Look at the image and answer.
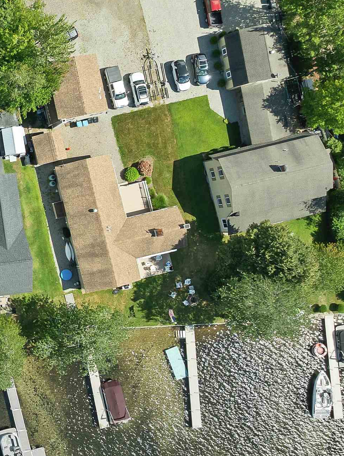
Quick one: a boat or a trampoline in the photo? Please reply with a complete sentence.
There is a boat in the scene.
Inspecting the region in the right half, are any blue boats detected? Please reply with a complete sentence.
No, no blue boat appears in the right half.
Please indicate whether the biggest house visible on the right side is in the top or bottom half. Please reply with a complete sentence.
The top half of the photo is where the biggest house visible on the right side is.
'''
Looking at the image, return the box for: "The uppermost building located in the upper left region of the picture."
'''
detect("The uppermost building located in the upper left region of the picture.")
[46,53,109,125]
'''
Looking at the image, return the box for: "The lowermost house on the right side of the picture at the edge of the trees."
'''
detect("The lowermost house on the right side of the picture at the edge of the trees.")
[200,79,339,235]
